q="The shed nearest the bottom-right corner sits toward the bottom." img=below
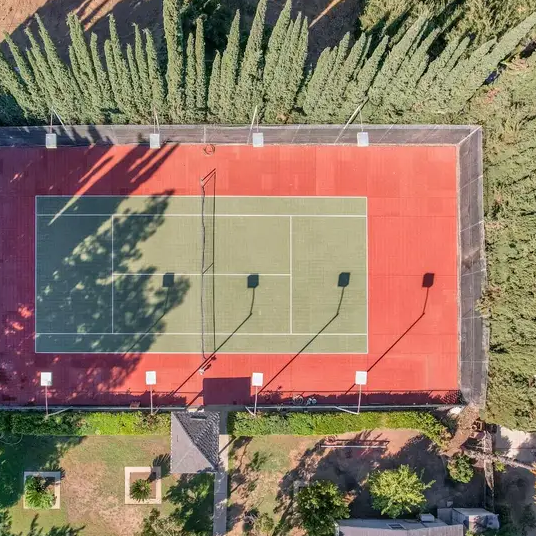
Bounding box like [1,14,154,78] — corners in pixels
[443,502,498,528]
